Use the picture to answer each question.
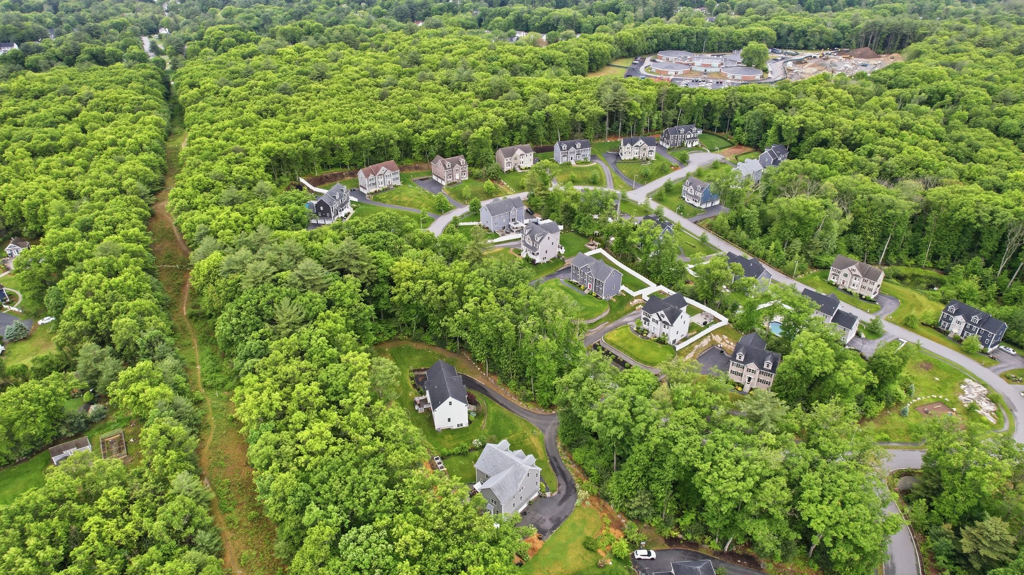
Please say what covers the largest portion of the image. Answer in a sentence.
What you mostly see from above here is trees.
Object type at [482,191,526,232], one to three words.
house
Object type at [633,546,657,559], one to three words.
vehicle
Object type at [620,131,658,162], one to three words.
house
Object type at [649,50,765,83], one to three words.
building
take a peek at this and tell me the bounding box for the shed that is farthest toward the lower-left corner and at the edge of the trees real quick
[44,429,91,465]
